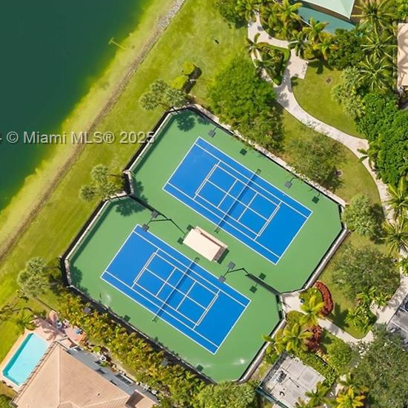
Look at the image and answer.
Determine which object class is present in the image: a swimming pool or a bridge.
swimming pool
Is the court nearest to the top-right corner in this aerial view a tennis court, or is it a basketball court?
tennis court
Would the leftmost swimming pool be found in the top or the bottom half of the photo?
bottom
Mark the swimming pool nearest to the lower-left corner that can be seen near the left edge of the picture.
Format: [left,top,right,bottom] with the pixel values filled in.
[1,332,50,387]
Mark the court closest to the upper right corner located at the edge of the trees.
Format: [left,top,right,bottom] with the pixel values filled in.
[128,107,343,294]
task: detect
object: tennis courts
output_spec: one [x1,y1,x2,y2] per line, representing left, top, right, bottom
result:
[68,198,284,380]
[128,107,343,294]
